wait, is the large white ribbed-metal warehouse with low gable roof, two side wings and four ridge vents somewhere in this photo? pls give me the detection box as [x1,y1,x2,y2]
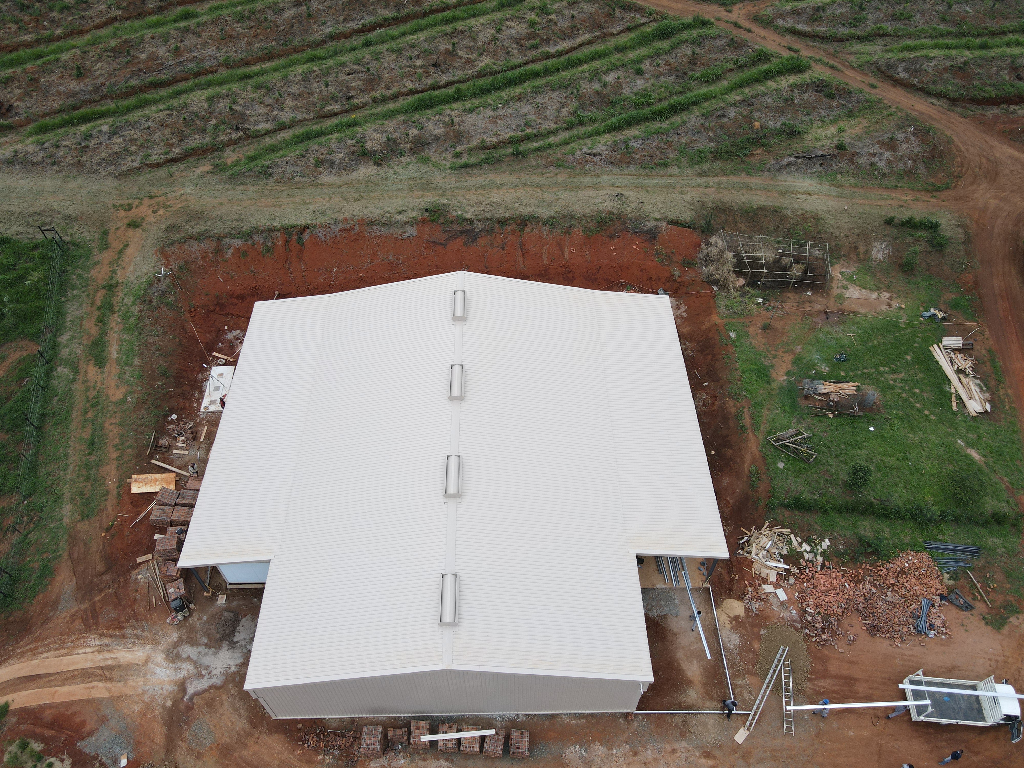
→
[175,270,729,720]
